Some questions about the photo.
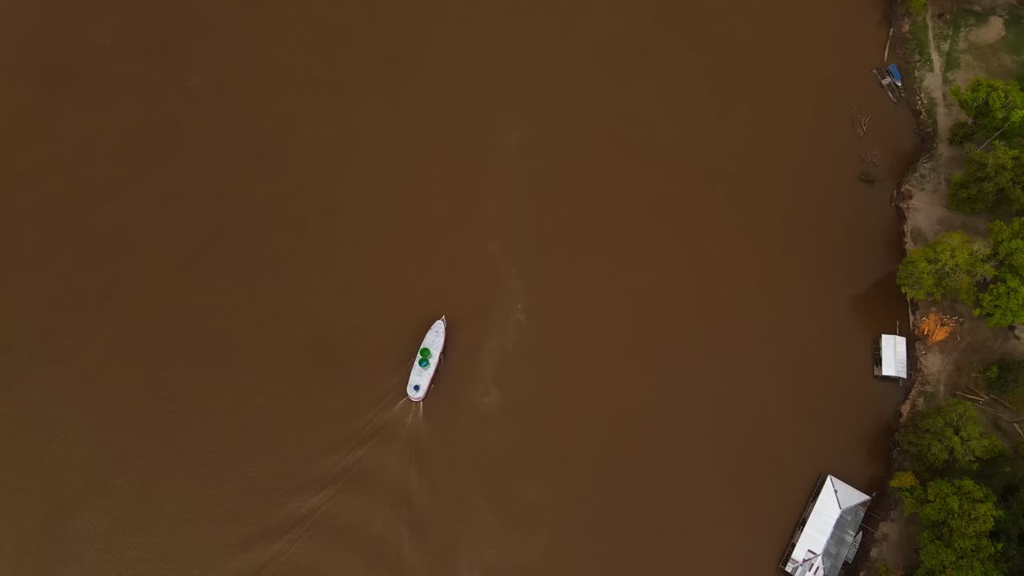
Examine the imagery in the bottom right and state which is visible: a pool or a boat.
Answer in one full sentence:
Looking in the bottom right, you will find a boat.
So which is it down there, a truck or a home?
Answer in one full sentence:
This aerial view contains a home.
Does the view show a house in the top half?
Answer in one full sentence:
No, there is no house in the top half.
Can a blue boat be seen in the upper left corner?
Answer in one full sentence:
No, the scene shows no blue boat in the upper left corner.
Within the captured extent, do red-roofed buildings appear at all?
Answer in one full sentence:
No, there's no red-roofed building here.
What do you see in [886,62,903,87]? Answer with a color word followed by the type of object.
blue boat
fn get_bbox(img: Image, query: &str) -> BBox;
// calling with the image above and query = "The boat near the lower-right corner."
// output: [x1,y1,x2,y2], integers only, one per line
[844,530,863,563]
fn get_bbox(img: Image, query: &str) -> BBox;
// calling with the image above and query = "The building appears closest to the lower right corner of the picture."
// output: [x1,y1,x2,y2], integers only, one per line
[778,471,871,576]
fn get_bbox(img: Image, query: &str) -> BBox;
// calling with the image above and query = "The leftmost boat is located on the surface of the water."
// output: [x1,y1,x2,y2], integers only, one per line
[406,314,445,402]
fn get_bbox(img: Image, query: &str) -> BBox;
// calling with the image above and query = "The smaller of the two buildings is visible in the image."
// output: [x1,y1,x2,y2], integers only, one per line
[871,322,906,387]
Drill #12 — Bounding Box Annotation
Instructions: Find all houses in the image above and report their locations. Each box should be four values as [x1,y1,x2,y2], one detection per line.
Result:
[778,471,871,576]
[871,322,906,387]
